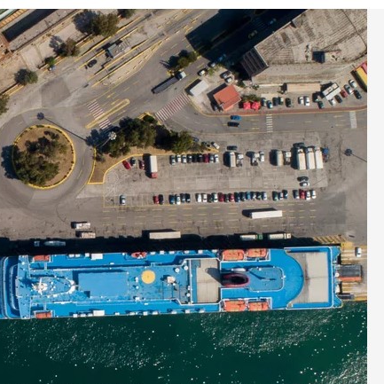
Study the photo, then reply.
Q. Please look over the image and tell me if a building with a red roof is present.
Yes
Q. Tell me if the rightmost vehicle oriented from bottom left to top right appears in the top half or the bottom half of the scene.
top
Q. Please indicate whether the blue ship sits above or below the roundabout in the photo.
below it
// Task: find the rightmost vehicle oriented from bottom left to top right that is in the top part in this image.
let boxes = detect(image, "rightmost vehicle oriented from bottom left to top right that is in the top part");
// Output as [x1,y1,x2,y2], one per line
[320,80,344,100]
